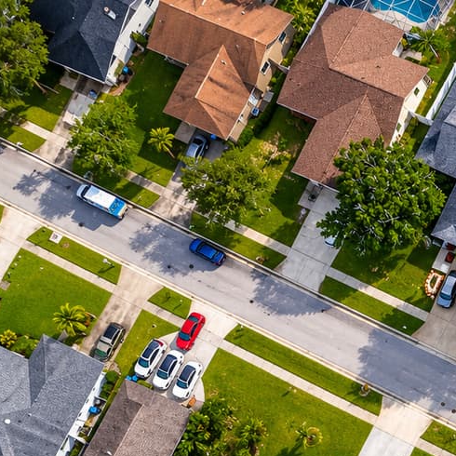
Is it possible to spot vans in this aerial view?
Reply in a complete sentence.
Yes, there is a van in the image.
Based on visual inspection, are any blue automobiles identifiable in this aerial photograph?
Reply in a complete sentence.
Yes, I can see a blue automobile in this picture.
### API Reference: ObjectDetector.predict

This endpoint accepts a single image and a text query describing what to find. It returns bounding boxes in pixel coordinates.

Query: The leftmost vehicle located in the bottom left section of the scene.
[96,321,128,362]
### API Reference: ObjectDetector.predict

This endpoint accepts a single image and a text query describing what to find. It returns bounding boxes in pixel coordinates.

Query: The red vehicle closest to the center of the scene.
[178,311,208,351]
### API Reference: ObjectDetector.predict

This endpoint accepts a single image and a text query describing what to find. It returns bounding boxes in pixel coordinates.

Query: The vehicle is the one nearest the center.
[191,238,230,268]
